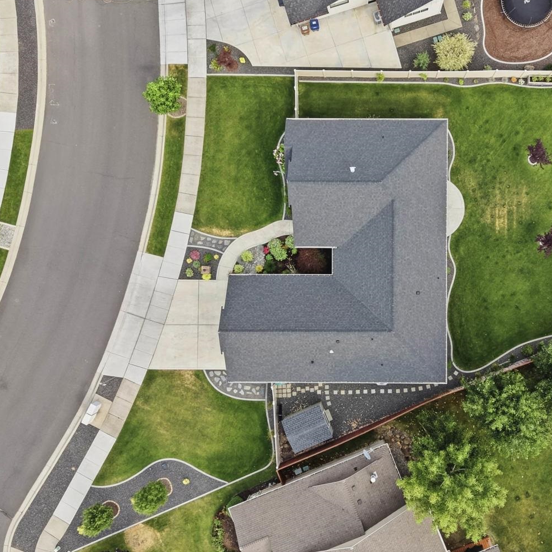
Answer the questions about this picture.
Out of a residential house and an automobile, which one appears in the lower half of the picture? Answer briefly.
residential house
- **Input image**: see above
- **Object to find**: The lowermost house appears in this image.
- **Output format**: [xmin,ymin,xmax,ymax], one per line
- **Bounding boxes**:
[227,442,451,552]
